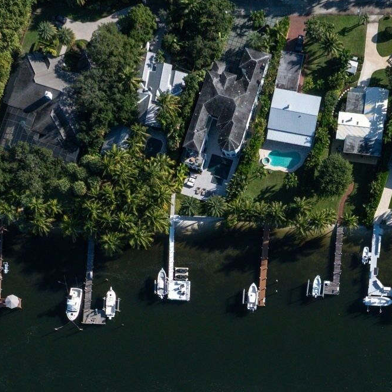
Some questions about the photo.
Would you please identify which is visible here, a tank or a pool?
pool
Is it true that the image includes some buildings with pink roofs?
No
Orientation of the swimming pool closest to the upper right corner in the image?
from left to right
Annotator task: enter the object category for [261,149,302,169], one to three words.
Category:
swimming pool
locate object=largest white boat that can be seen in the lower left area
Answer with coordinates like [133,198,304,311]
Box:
[68,287,85,321]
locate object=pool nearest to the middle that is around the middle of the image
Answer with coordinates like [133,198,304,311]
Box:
[207,153,234,179]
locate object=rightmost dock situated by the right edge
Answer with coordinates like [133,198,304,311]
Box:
[367,225,392,296]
